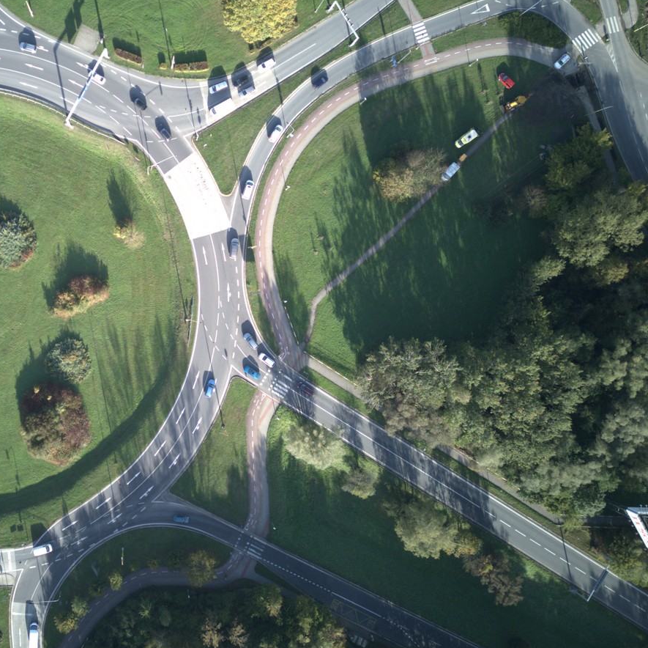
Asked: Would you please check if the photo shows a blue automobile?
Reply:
Yes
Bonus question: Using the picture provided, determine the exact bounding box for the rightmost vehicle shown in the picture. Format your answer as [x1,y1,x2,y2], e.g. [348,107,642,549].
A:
[554,52,574,69]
